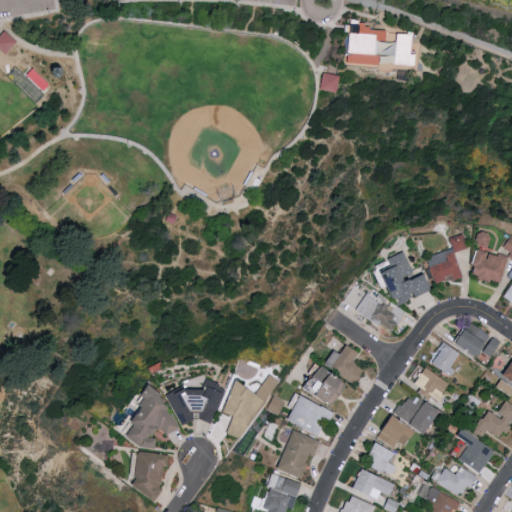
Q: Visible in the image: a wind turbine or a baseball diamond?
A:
baseball diamond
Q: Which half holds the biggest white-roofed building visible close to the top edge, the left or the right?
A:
right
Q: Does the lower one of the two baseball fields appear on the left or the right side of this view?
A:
left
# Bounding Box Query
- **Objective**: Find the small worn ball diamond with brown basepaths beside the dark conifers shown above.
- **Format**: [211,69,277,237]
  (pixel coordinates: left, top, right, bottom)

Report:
[52,171,130,238]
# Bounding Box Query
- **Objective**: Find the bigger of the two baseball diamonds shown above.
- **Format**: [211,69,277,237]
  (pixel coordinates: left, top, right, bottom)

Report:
[69,20,315,204]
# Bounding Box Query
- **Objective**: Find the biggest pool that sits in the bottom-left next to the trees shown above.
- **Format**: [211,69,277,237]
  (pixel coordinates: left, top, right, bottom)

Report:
[112,411,127,426]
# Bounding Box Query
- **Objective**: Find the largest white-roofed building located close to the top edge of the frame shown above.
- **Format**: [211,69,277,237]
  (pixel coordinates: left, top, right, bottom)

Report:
[345,18,386,64]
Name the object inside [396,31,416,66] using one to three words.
building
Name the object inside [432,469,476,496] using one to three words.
house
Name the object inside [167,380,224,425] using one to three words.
house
